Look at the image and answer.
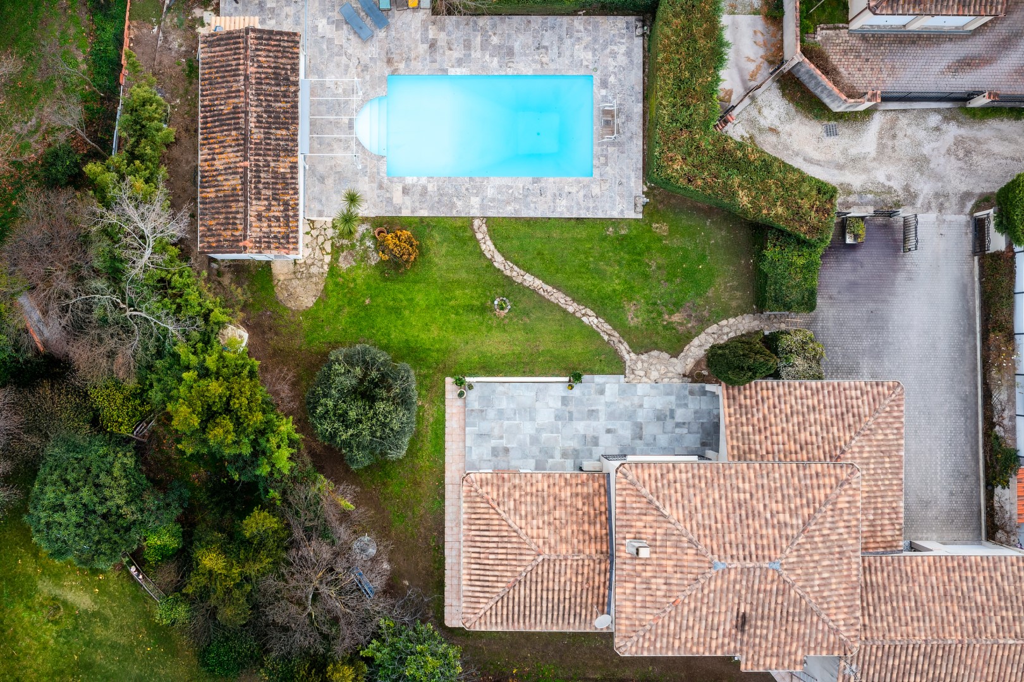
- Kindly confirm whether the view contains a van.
No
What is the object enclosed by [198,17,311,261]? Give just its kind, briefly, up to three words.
building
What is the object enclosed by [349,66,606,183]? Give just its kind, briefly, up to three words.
swimming pool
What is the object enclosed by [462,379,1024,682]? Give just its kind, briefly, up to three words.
house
